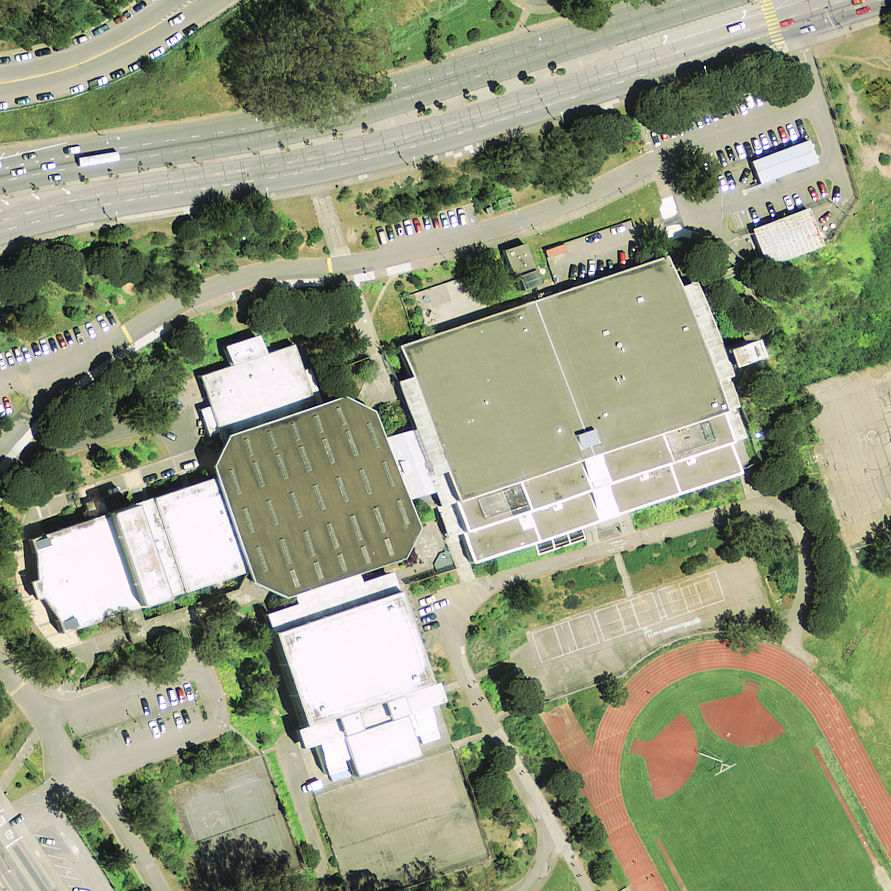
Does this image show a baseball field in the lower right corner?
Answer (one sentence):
Yes, a baseball field is visible in the lower right corner.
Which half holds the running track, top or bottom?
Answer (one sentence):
You can find the running track in the bottom half.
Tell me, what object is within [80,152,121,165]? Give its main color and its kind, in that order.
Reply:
white vehicle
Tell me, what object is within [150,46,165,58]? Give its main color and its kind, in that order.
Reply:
white vehicle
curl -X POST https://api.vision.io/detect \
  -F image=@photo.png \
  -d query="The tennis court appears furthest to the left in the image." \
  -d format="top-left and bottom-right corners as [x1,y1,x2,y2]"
[171,757,298,881]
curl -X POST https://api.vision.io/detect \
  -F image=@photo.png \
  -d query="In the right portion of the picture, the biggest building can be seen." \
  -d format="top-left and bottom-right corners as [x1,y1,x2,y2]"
[399,256,747,563]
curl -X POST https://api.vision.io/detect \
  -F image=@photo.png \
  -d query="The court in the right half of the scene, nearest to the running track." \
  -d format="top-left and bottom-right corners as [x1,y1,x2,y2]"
[511,556,775,700]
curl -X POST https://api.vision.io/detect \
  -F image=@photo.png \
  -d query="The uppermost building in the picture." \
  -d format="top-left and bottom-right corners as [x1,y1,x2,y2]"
[743,141,819,195]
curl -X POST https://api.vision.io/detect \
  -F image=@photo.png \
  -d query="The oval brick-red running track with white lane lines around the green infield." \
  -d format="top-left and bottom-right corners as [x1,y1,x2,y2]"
[542,640,891,891]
